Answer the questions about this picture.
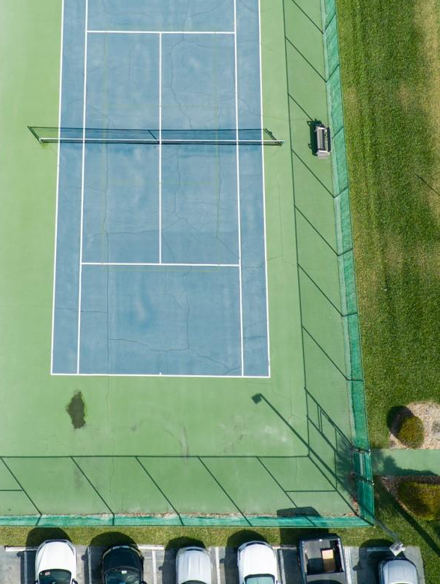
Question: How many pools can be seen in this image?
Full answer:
Not a single pool can be seen.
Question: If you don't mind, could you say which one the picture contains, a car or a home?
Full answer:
This aerial view contains a car.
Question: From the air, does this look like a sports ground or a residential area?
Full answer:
What you see here is a sports ground.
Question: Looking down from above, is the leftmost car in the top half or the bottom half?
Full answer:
The leftmost car sits in the bottom half of the picture.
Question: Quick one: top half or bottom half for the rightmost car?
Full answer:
The rightmost car is in the bottom half of the image.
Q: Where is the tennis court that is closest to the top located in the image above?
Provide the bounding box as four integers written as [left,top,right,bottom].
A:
[0,0,357,516]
